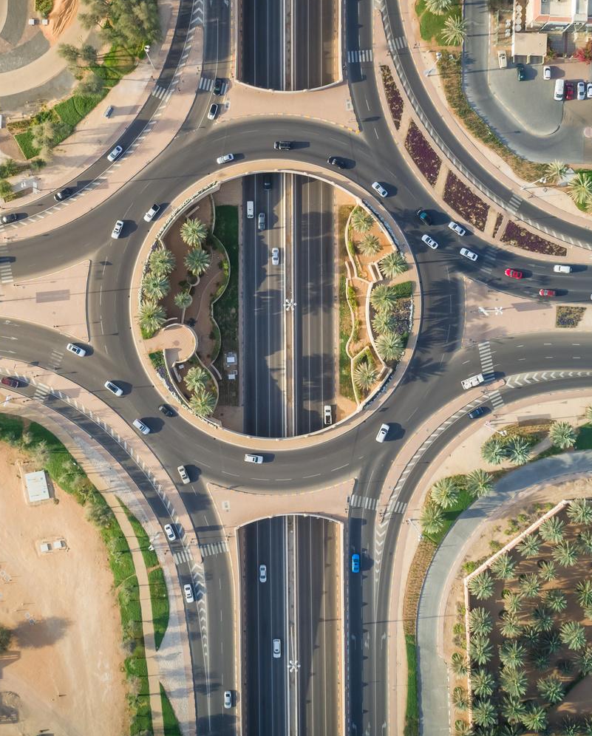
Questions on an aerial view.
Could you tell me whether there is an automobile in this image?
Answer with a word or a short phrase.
Yes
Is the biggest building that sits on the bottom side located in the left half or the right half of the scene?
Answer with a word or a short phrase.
left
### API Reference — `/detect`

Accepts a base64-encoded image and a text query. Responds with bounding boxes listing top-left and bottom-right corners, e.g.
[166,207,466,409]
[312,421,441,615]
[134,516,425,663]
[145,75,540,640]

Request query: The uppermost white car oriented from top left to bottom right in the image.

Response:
[371,182,387,198]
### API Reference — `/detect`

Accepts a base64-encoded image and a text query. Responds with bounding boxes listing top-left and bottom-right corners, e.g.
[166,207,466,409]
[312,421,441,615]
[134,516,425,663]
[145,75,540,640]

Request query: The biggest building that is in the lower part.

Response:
[25,468,52,503]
